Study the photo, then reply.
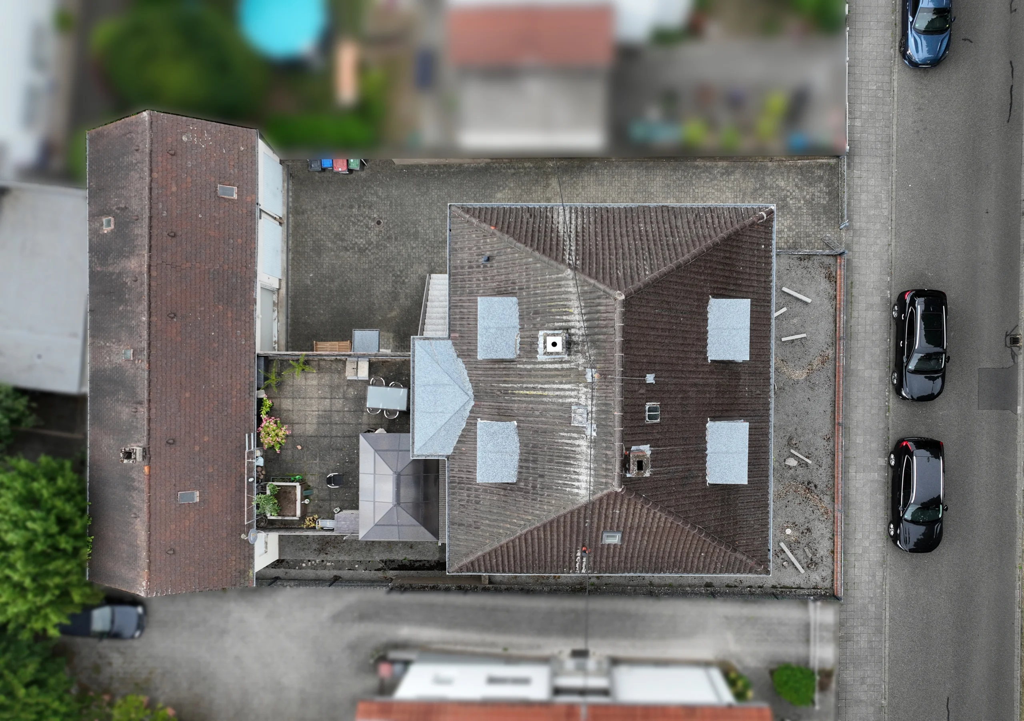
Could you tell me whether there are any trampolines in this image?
No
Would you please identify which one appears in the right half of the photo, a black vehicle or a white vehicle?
black vehicle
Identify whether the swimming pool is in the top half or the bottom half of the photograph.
top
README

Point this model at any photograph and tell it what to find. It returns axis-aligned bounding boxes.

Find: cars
[28,595,142,653]
[888,289,954,402]
[886,436,951,554]
[897,0,961,73]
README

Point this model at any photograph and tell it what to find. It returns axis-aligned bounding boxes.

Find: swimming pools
[236,0,337,73]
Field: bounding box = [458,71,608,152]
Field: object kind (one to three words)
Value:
building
